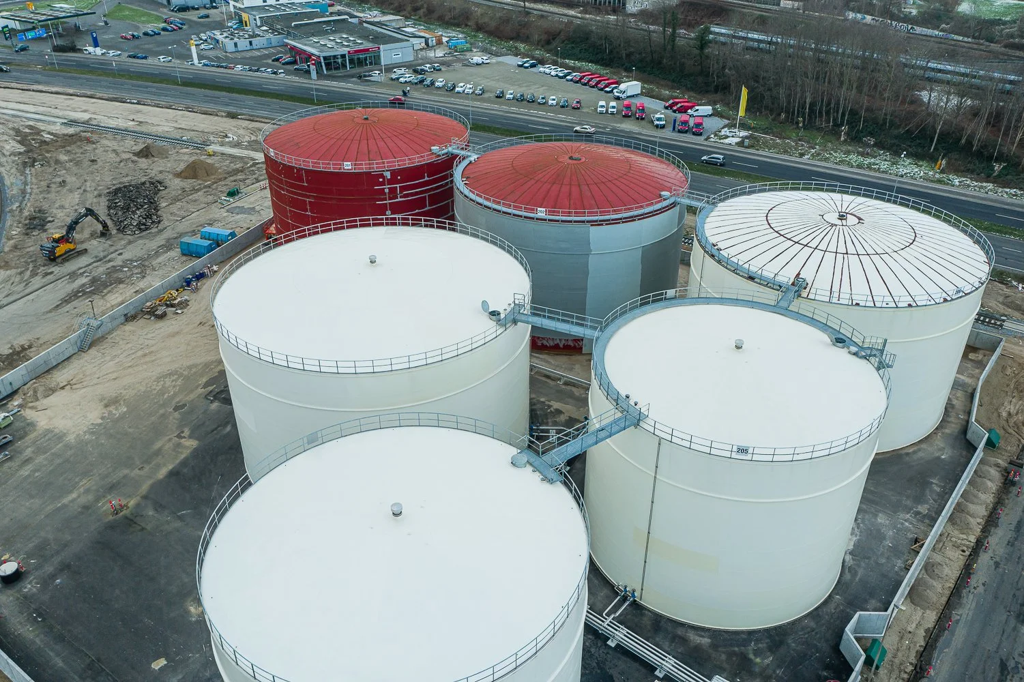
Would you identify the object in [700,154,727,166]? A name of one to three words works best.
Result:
vehicle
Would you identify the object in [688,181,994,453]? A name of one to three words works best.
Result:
storage tank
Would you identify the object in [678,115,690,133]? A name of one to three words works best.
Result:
vehicle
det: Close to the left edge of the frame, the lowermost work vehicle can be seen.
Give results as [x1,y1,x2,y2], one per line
[39,205,116,267]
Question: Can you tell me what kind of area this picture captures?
industrial area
